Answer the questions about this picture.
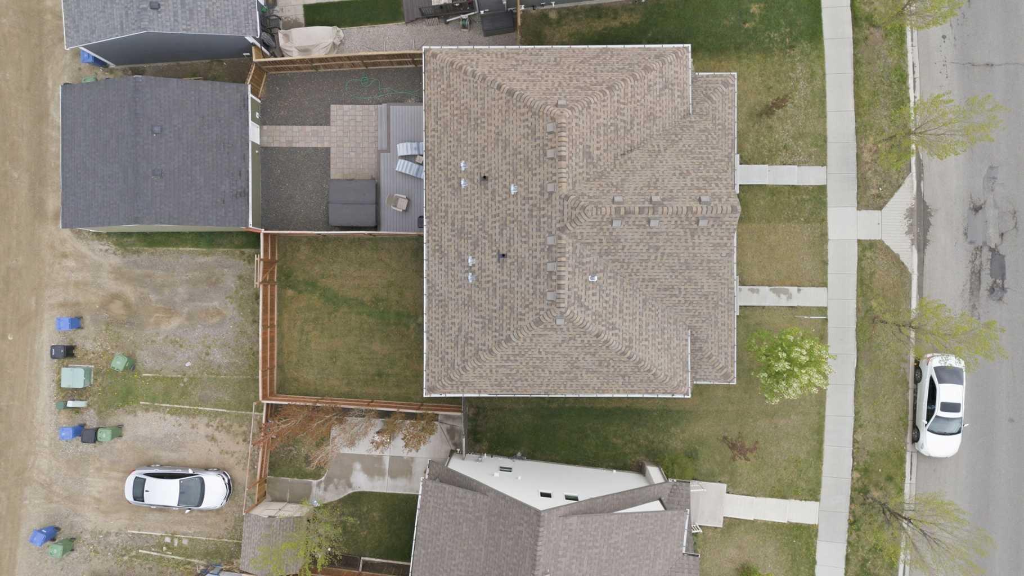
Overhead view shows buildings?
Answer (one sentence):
Yes, the image includes a building.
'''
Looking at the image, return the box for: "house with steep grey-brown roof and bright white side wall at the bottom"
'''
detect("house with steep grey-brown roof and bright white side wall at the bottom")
[407,452,705,576]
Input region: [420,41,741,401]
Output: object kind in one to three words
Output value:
house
